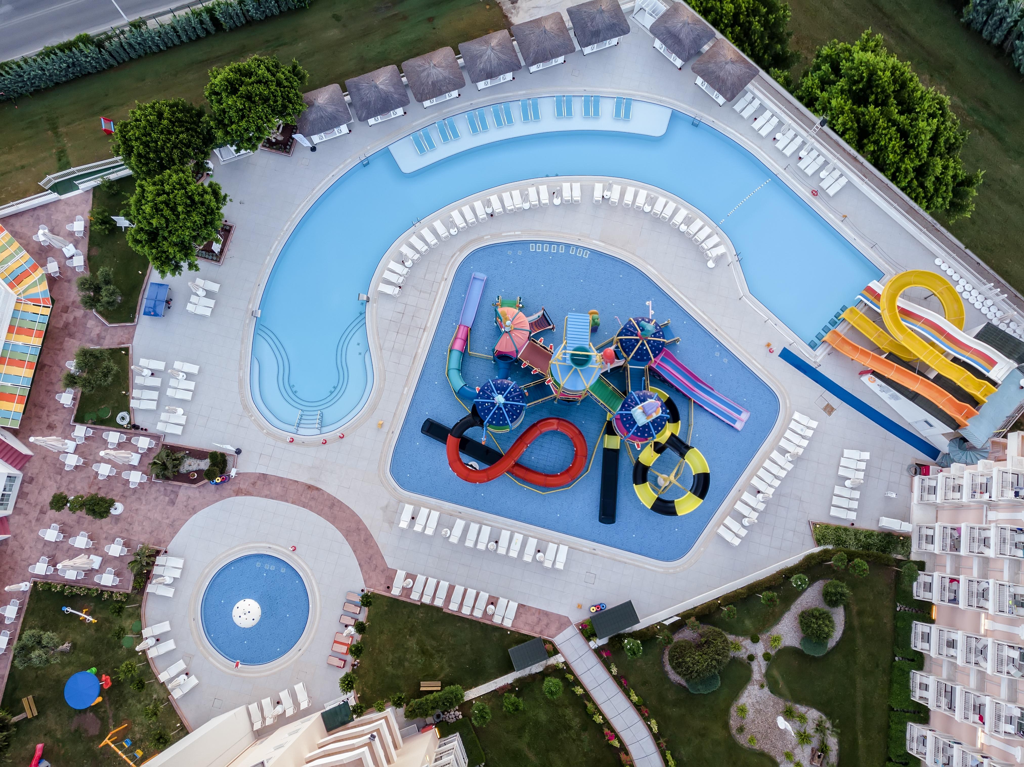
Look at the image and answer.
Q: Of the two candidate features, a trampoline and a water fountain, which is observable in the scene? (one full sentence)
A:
Looking from above, you can make out a water fountain.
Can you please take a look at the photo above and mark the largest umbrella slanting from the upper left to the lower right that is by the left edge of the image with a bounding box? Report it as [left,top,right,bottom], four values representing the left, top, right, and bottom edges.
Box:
[38,231,75,259]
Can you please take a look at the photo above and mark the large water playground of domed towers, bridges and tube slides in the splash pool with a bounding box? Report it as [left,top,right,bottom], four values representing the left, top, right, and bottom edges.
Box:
[425,270,752,522]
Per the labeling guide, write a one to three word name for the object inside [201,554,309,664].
swimming pool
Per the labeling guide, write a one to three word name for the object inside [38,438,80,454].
umbrella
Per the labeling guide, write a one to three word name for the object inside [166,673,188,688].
umbrella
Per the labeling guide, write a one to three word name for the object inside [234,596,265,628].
fountain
